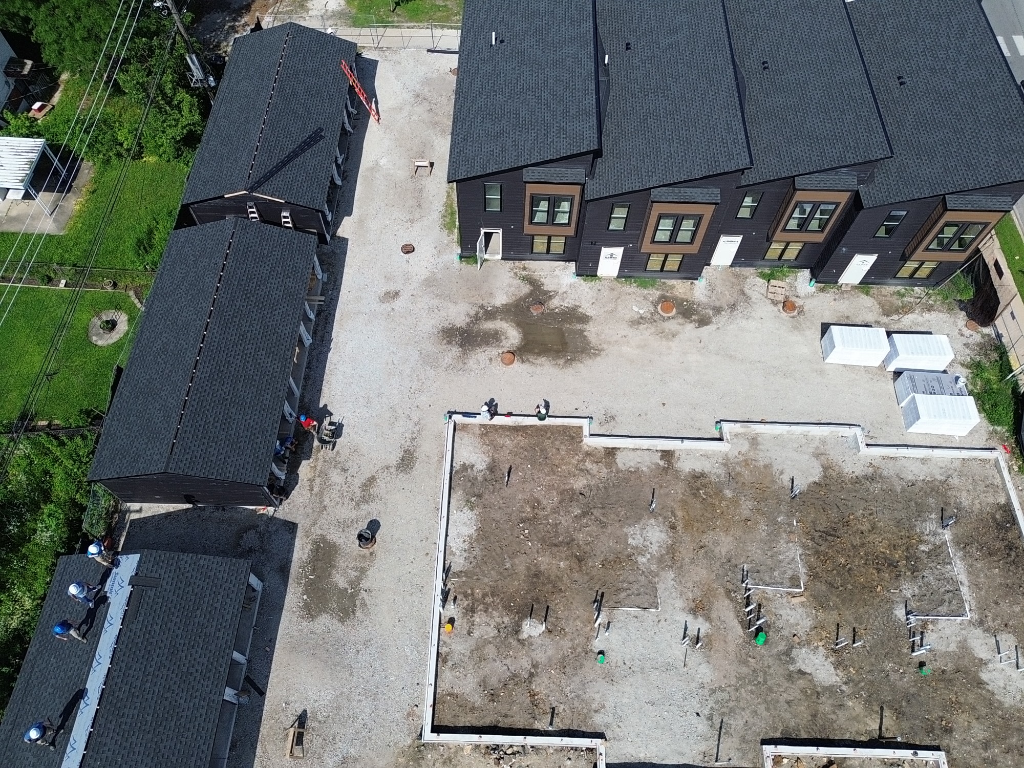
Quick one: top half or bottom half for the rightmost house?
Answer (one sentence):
The rightmost house sits in the top half of the picture.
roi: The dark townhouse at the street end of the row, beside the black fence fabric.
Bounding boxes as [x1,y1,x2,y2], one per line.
[814,0,1024,287]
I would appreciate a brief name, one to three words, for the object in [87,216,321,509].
building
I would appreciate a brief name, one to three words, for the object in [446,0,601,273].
house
